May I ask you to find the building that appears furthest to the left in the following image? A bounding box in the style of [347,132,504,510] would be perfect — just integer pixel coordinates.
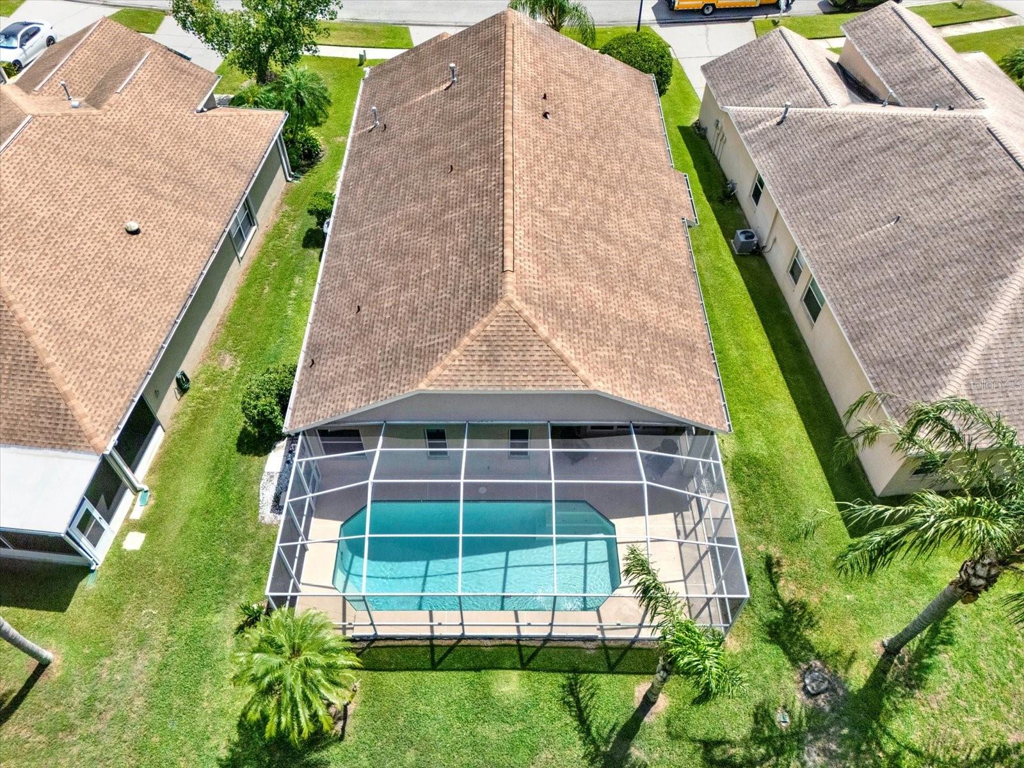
[0,17,298,582]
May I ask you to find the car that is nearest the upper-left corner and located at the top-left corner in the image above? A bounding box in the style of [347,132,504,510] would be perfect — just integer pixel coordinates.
[0,18,58,64]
